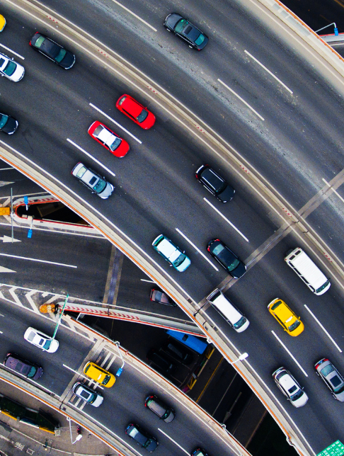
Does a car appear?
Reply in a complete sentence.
Yes, you can see a car in this photo.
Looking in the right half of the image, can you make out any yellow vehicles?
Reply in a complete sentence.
Yes, there is a yellow vehicle in the right half of the image.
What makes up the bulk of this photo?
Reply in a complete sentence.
The bulk of the photo consists of paved ground.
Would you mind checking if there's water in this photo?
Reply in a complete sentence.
No, there's no water in this view.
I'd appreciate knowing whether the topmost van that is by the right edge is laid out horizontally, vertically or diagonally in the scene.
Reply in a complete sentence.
The topmost van that is by the right edge runs diagonally in the image.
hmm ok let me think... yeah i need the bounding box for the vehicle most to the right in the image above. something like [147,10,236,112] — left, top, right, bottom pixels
[313,356,344,401]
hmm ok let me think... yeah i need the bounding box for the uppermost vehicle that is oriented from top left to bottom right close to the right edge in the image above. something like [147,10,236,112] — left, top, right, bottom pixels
[284,246,331,296]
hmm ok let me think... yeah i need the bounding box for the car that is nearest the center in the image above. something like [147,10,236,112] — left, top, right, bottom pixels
[150,232,191,271]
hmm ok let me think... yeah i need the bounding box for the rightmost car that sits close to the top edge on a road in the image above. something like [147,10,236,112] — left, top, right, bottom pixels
[163,13,210,51]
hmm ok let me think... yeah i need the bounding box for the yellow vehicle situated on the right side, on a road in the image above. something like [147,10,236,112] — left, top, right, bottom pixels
[267,297,302,336]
